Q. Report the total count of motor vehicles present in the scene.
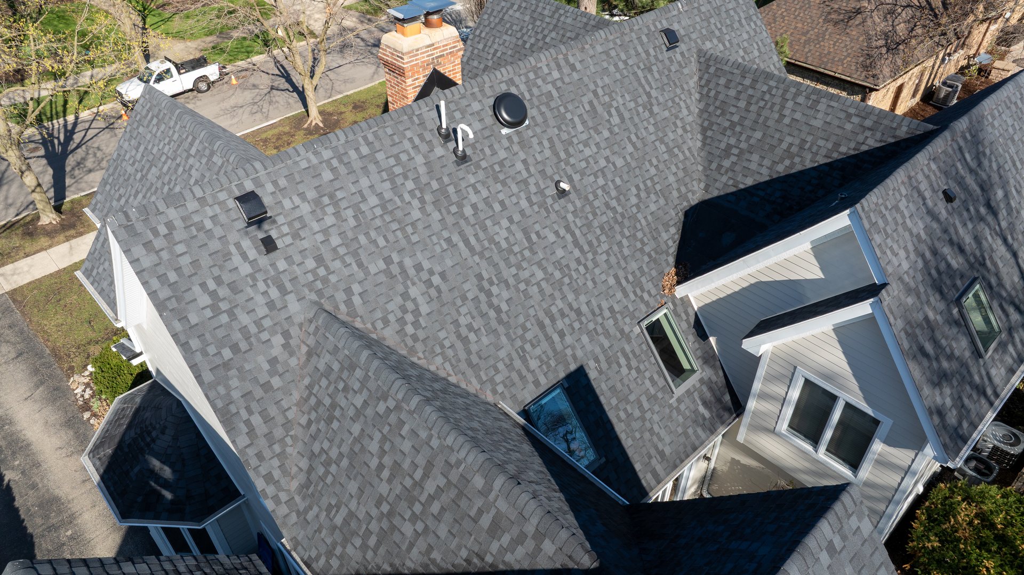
1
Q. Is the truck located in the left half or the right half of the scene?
left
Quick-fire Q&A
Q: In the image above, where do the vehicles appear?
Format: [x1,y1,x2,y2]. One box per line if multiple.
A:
[113,55,224,107]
